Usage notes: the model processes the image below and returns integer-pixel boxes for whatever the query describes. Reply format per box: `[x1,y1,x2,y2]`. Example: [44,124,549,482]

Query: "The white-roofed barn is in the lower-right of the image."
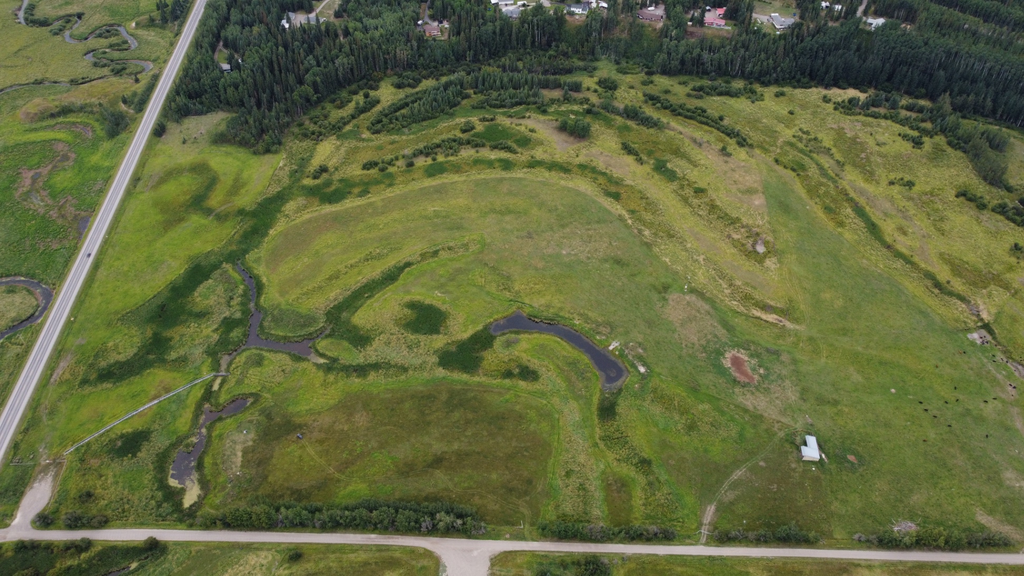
[802,431,824,460]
